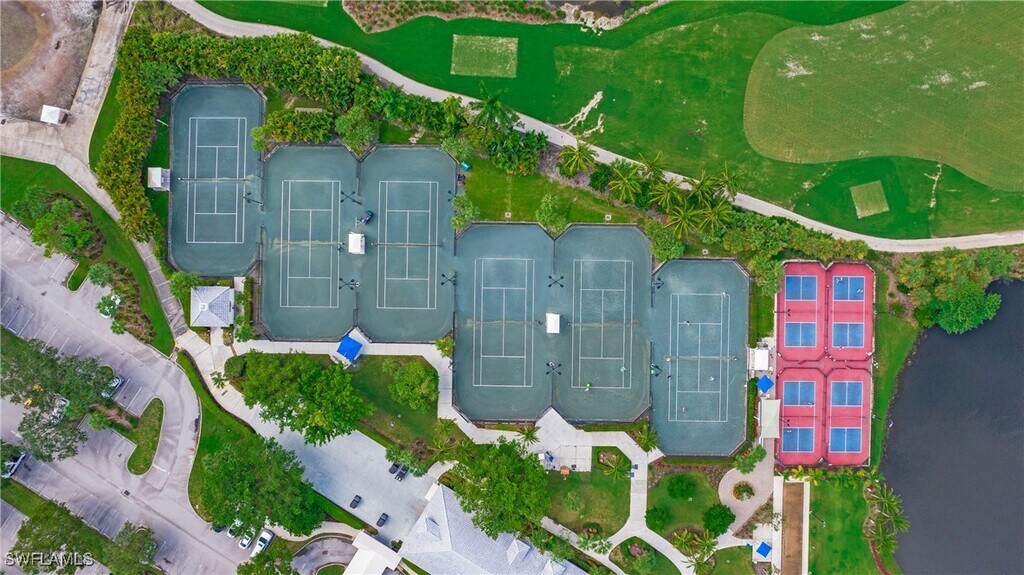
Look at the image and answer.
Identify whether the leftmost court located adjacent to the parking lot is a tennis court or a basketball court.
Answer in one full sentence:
Specifically, the leftmost court located adjacent to the parking lot is a tennis court.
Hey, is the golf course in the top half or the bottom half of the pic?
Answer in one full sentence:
It is in the top half that the golf course appears.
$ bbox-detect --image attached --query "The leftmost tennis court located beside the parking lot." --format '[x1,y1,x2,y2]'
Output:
[168,84,263,275]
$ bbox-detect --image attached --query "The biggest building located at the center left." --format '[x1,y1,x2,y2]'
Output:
[190,287,234,327]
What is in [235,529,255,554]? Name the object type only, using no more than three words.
car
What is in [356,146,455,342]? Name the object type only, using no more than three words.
tennis court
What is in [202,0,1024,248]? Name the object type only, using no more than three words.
golf course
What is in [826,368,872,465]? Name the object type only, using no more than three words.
sports court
